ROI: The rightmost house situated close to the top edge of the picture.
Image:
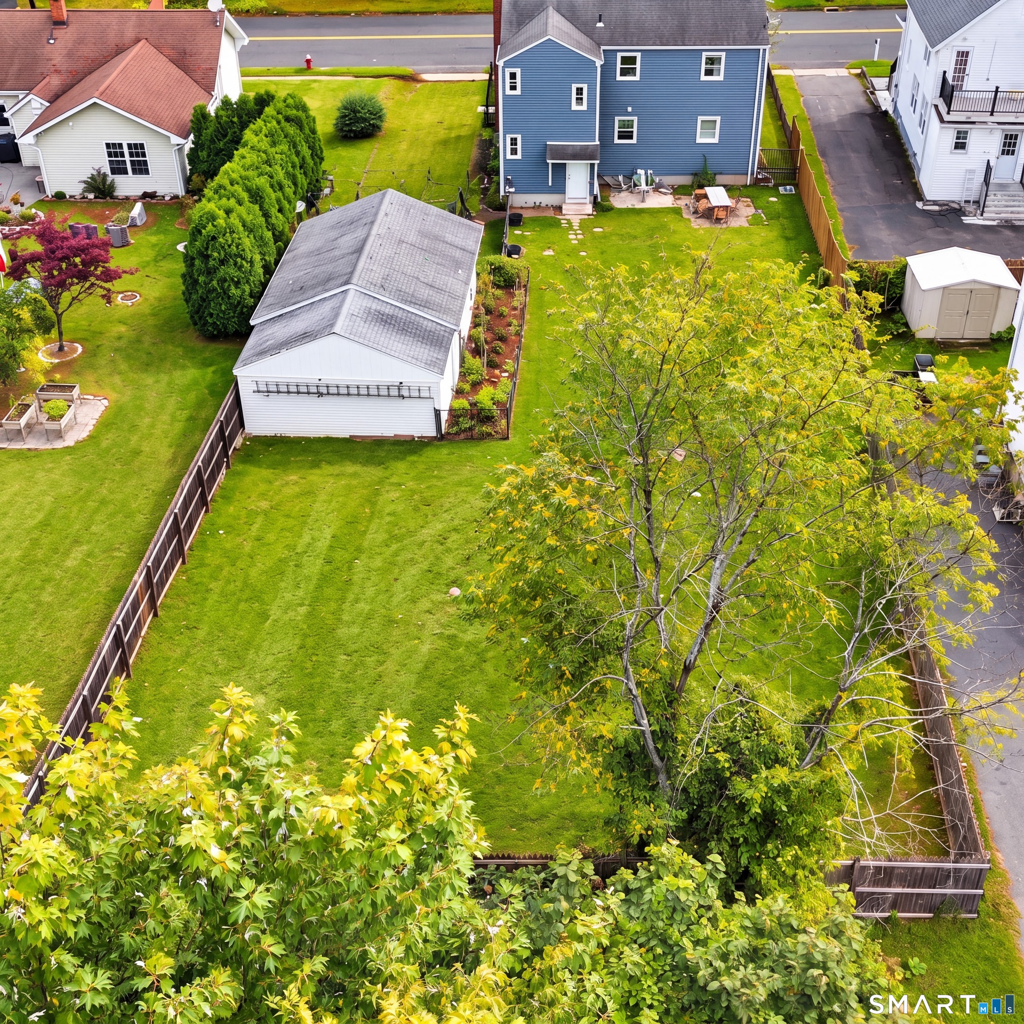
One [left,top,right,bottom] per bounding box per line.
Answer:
[871,0,1024,219]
